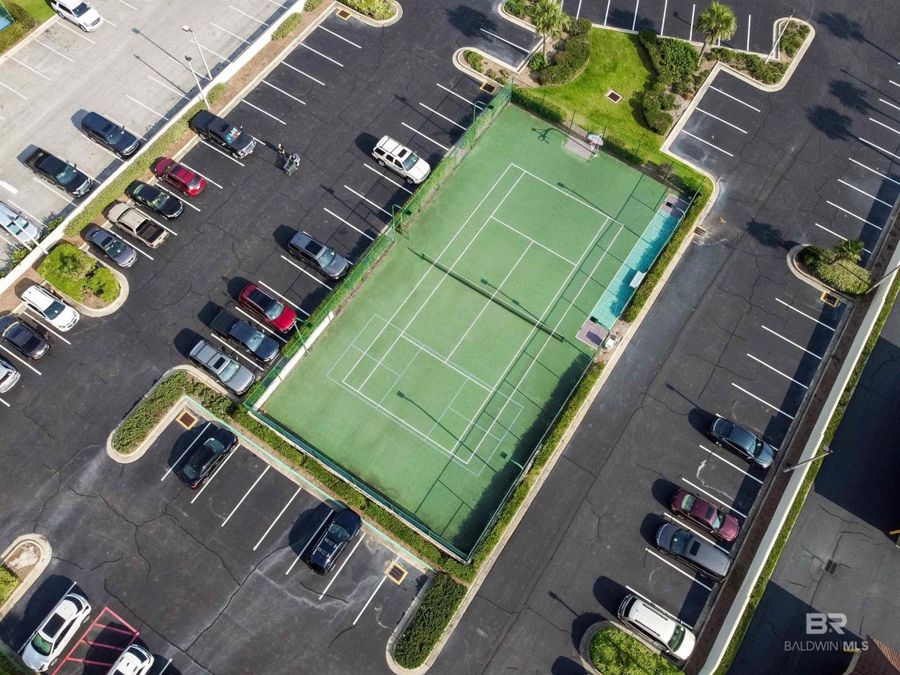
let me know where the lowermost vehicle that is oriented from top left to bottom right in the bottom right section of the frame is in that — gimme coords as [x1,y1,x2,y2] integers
[616,592,694,661]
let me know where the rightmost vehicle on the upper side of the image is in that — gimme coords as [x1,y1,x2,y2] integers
[370,135,430,183]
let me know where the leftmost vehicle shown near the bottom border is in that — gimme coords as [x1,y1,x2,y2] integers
[22,592,95,673]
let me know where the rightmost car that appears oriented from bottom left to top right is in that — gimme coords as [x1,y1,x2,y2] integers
[300,507,363,582]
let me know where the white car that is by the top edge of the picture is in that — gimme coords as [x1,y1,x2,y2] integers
[50,0,105,35]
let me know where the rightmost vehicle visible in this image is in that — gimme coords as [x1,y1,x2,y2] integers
[703,417,771,470]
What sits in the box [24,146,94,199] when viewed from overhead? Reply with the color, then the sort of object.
black truck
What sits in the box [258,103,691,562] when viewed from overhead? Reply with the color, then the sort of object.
green tennis court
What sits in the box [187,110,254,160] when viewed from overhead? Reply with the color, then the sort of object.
black truck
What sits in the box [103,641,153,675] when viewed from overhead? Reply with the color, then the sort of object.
white car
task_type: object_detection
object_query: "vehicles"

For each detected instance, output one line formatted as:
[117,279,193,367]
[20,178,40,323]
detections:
[24,146,94,199]
[103,641,153,675]
[22,592,95,673]
[300,507,363,582]
[83,226,141,272]
[178,426,239,490]
[208,306,280,363]
[370,135,430,183]
[238,283,299,332]
[78,108,140,156]
[0,310,53,361]
[666,488,736,541]
[703,417,771,470]
[152,158,207,200]
[126,178,183,221]
[616,592,694,661]
[50,0,105,35]
[652,522,731,582]
[102,200,172,250]
[187,110,254,160]
[287,231,348,280]
[187,338,256,394]
[0,350,27,390]
[19,285,83,335]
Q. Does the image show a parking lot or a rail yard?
parking lot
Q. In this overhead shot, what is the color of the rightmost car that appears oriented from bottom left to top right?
black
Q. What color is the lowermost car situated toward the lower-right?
white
